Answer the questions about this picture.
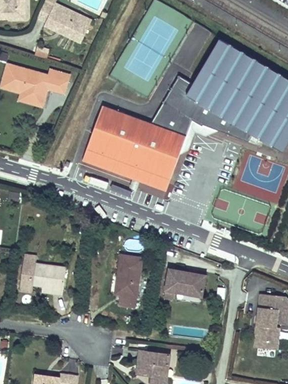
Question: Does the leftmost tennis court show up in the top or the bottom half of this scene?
top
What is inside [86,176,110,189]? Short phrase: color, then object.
white vehicle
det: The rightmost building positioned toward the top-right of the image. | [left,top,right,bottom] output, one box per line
[188,40,288,152]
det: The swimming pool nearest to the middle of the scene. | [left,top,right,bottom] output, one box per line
[124,237,144,252]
